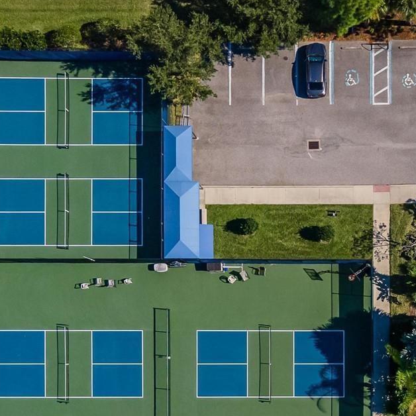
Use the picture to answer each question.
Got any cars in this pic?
Yes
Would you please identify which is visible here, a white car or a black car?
black car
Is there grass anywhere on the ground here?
Yes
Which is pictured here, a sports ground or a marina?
sports ground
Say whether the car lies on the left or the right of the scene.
right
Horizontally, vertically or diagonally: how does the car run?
vertically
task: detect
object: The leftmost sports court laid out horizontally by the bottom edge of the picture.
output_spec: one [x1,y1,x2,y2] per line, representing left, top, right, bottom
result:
[0,330,143,398]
